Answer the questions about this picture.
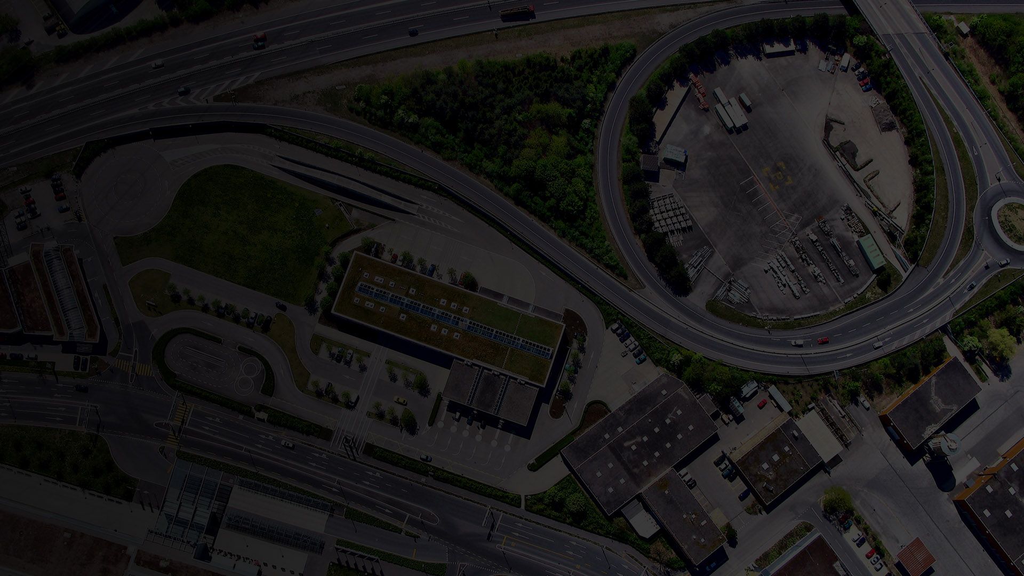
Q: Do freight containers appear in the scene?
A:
Yes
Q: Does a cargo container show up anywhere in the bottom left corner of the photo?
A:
No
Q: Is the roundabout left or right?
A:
right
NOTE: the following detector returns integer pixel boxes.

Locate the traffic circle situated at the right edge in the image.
[939,143,1024,292]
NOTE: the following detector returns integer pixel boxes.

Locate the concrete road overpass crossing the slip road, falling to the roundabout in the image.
[852,0,1024,185]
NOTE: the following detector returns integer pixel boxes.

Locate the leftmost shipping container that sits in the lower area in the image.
[766,388,792,413]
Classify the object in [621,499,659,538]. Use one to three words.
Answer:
shed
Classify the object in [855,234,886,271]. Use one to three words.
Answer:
shed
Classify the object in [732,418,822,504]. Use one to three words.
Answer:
building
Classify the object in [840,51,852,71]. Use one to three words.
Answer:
vehicle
